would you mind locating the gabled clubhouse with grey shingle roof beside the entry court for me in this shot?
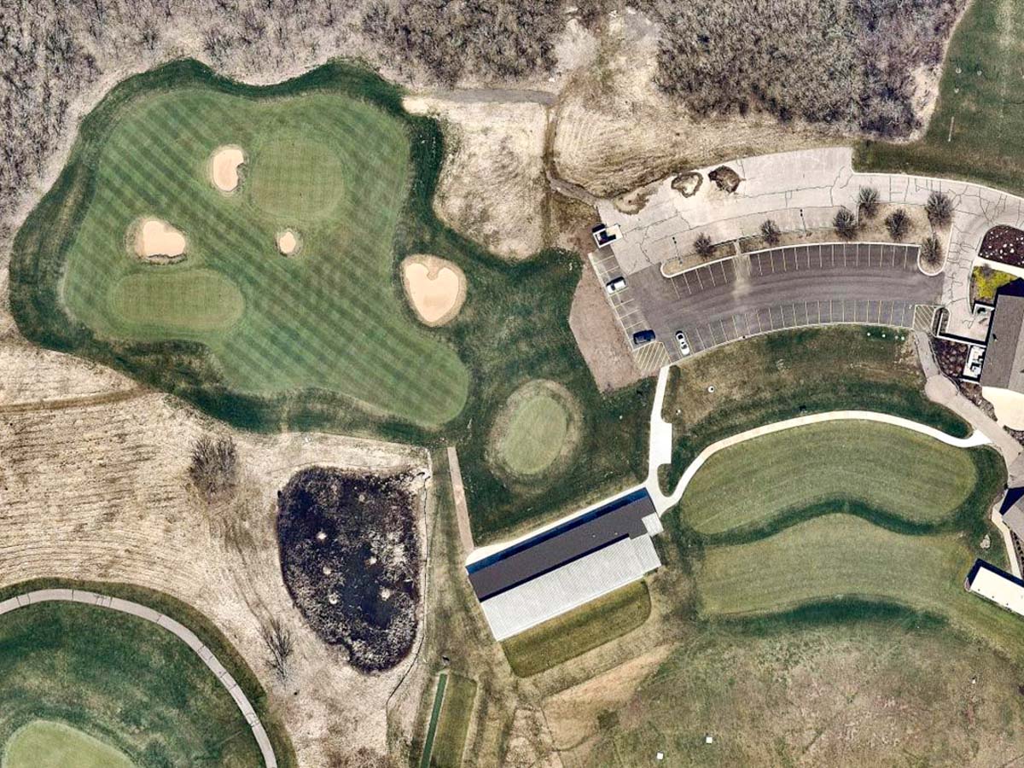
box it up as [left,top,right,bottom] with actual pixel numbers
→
[980,294,1024,391]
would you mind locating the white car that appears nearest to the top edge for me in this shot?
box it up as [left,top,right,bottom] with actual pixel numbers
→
[607,279,627,293]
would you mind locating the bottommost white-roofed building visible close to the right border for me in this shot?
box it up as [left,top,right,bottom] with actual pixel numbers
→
[970,567,1024,615]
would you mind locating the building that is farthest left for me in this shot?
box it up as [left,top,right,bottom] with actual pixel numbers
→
[469,495,664,641]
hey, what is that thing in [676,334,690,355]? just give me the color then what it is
white car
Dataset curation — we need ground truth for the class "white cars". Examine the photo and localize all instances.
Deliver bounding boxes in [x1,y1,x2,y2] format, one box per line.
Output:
[607,279,627,293]
[676,334,690,355]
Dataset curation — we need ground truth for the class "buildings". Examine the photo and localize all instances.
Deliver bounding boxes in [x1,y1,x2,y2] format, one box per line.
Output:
[980,294,1024,391]
[469,495,664,641]
[1002,496,1024,540]
[970,567,1024,615]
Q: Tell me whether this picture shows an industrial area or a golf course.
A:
golf course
